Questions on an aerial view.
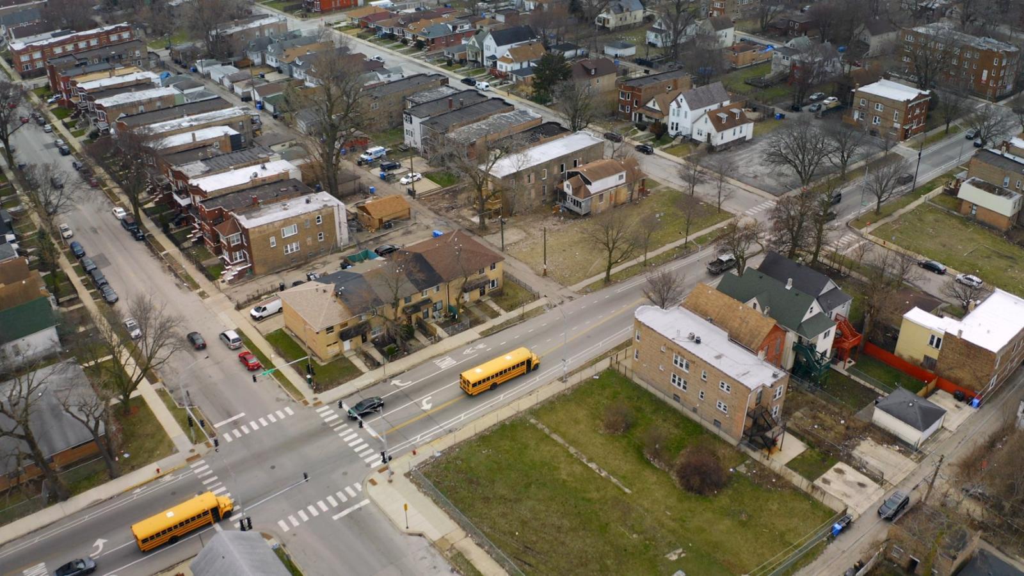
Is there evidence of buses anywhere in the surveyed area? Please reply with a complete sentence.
Yes, I can see a bus in this picture.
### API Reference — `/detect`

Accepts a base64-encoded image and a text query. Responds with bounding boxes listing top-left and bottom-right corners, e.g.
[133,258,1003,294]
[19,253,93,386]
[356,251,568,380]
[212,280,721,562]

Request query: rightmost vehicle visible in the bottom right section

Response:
[877,479,911,517]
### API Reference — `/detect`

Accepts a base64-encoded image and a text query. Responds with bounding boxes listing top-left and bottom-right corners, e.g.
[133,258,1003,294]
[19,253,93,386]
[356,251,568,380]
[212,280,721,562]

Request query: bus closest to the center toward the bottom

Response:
[461,350,546,403]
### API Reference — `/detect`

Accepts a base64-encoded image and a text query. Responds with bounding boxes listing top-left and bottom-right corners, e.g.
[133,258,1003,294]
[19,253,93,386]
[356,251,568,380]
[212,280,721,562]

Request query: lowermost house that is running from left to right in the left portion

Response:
[181,521,302,576]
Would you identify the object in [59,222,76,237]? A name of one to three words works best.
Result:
car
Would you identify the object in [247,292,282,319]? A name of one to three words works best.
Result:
vehicle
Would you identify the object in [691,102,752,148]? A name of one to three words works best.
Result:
house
